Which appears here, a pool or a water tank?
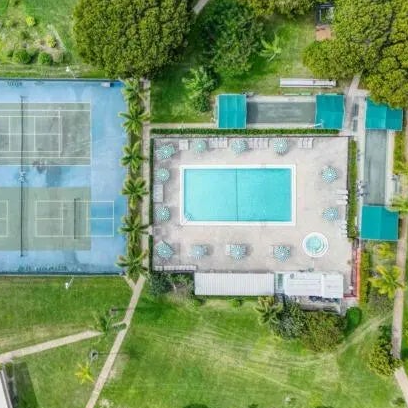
pool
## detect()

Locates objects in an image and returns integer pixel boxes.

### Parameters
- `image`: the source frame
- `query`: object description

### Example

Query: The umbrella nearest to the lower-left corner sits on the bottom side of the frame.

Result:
[156,243,171,258]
